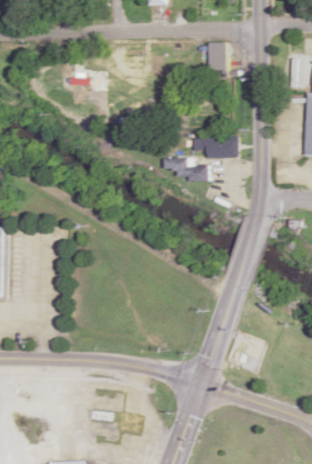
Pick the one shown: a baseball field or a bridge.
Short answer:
bridge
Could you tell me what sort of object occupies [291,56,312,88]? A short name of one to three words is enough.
building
